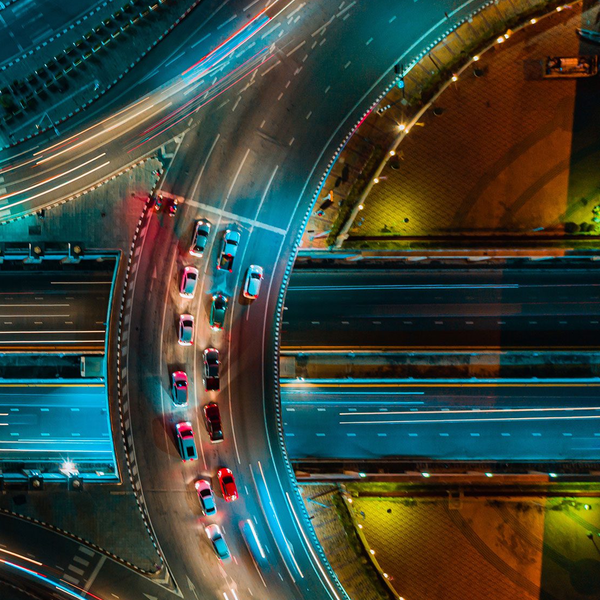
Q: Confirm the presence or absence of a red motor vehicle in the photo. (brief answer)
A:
Yes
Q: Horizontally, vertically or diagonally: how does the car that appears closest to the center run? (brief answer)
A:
vertically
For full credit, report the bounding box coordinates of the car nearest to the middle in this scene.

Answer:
[243,265,263,300]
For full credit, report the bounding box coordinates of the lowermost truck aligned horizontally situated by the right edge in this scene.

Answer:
[547,54,600,76]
